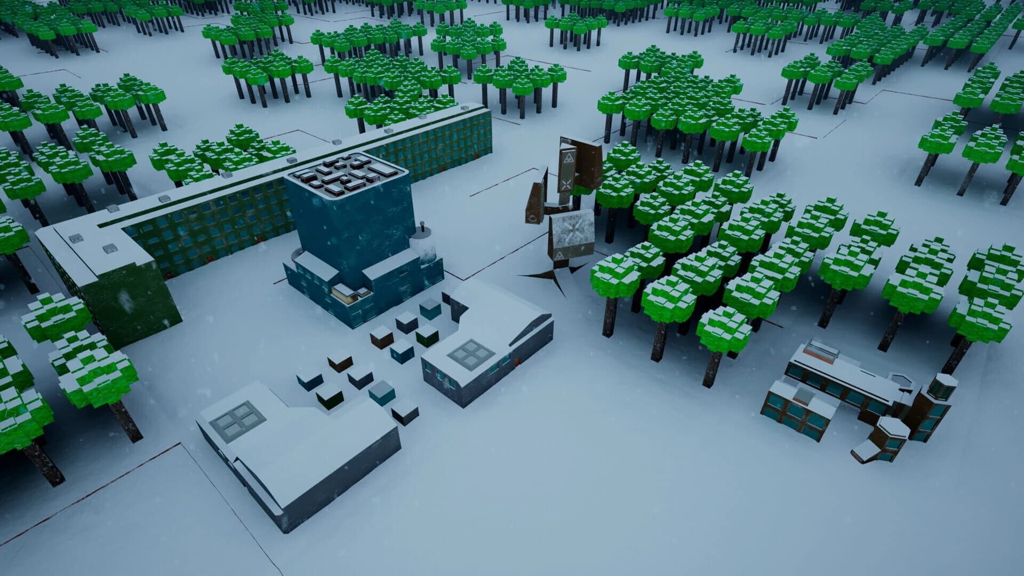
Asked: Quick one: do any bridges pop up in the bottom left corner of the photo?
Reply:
No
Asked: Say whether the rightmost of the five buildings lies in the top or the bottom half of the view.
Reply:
bottom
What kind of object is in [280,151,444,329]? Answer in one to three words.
building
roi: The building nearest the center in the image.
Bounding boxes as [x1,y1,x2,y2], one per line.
[421,277,554,409]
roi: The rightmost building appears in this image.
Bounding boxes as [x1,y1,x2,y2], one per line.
[761,338,957,464]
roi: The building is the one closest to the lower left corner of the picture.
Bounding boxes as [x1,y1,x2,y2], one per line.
[197,381,401,537]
